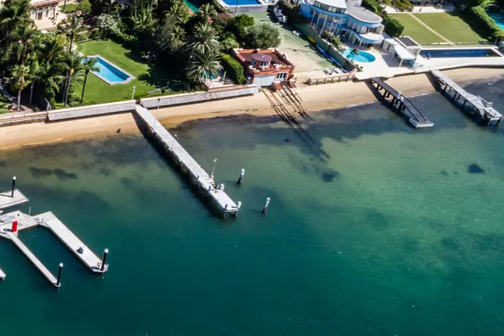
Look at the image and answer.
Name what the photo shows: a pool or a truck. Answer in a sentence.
Of the two, only a pool appears.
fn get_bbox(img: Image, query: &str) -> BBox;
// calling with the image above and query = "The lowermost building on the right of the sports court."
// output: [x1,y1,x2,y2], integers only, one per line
[378,37,422,73]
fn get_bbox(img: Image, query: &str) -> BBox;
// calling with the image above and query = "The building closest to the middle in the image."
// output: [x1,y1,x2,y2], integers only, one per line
[226,49,301,97]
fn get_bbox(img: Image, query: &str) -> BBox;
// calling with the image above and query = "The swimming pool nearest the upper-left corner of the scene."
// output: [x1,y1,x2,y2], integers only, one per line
[77,56,137,85]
